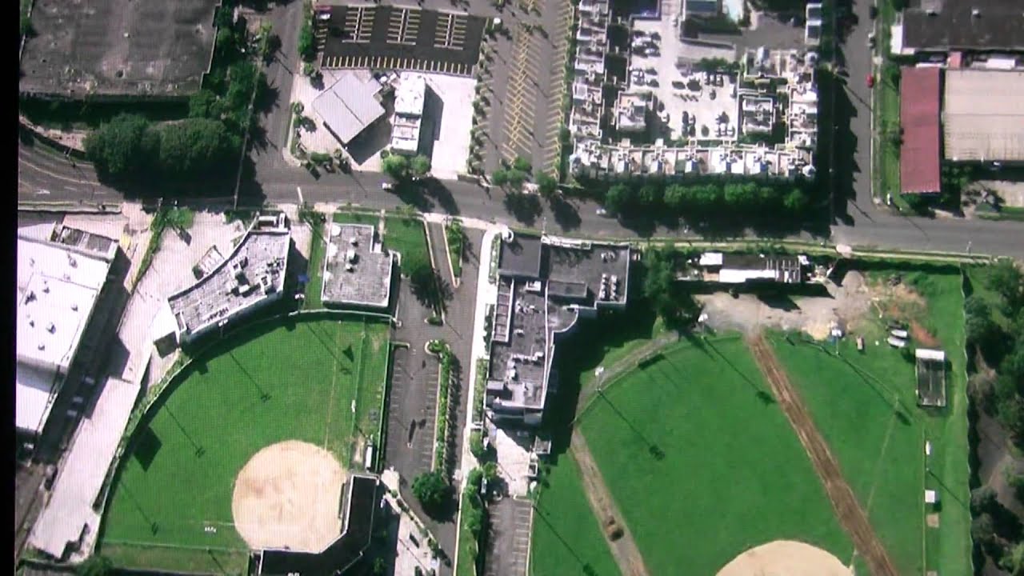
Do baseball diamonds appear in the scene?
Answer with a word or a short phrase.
Yes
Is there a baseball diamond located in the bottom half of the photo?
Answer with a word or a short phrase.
Yes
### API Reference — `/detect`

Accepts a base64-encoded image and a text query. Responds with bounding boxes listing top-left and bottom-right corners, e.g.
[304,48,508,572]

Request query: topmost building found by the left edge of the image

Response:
[18,0,222,101]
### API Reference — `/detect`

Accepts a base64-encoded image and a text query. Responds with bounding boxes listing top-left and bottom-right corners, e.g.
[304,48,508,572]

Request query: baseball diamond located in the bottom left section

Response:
[95,314,390,576]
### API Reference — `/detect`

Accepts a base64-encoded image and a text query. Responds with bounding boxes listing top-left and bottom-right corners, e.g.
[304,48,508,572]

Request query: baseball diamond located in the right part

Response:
[528,336,923,576]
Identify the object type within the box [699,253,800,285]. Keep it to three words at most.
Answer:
shed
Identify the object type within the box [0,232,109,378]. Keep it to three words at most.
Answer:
building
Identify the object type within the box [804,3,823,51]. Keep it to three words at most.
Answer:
house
